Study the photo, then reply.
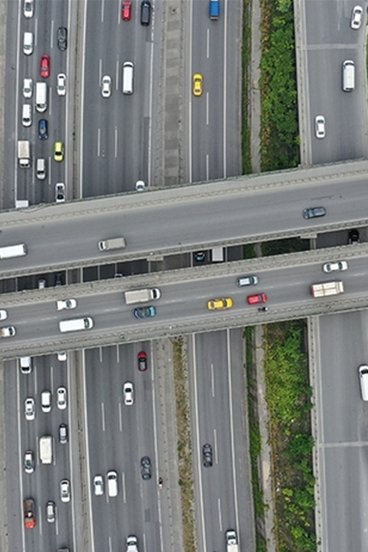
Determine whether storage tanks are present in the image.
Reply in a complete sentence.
No, this view has no storage tank in it.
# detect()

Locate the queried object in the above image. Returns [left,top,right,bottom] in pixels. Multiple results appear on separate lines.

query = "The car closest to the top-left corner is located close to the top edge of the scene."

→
[22,0,34,18]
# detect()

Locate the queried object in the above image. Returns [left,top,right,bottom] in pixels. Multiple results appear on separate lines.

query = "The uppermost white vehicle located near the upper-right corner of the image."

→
[350,5,363,30]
